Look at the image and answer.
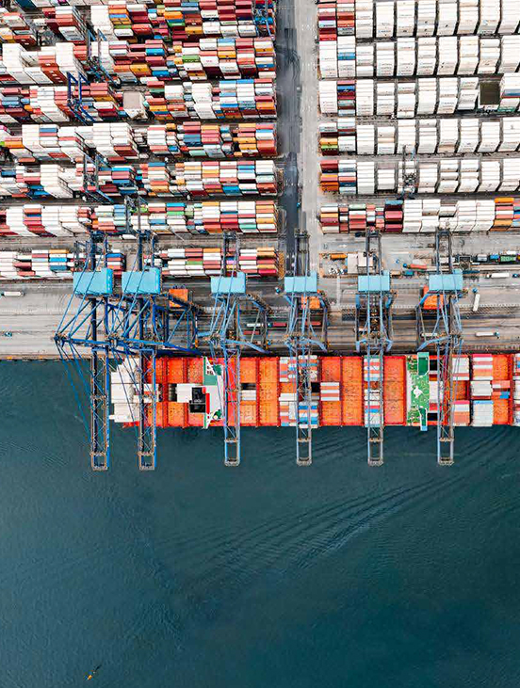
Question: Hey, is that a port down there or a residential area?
port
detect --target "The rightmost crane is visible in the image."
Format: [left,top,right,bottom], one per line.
[408,230,466,468]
